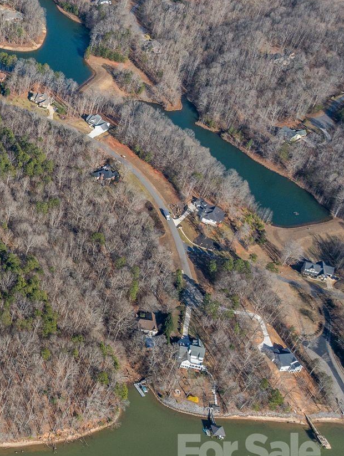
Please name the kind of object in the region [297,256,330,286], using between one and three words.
house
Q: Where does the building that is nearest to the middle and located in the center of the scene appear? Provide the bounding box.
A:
[174,188,224,229]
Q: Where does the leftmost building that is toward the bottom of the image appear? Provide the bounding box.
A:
[135,311,158,340]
